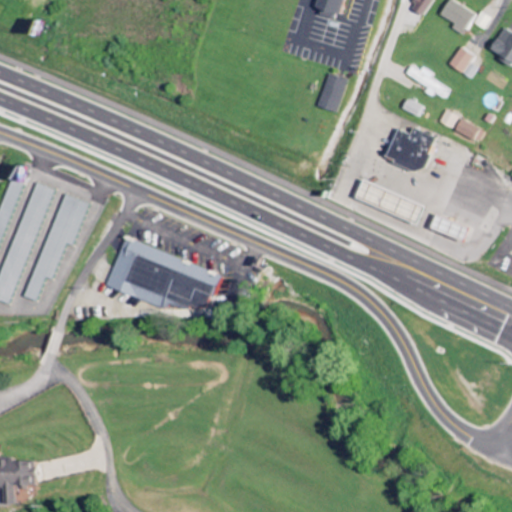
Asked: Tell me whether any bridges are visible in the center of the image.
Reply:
No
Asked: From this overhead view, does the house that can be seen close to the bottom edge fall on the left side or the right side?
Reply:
left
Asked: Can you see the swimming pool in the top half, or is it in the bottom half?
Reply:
top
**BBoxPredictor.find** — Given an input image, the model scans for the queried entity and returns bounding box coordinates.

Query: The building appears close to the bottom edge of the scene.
[0,456,36,502]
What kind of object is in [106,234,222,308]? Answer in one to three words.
building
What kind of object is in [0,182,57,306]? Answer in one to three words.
building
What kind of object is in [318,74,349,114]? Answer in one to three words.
shed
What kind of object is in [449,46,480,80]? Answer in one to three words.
house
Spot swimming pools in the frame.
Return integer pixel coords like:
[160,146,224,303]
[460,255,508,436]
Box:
[483,92,504,116]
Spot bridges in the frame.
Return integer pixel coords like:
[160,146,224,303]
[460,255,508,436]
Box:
[42,318,70,364]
